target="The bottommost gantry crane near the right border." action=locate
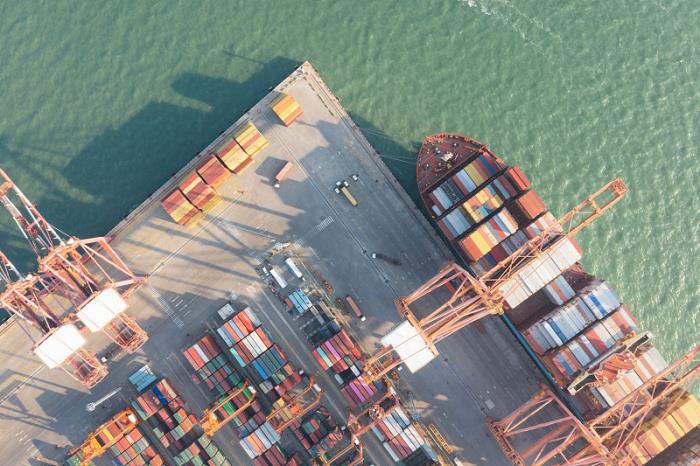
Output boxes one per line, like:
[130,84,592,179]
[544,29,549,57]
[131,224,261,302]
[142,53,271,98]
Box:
[486,339,700,466]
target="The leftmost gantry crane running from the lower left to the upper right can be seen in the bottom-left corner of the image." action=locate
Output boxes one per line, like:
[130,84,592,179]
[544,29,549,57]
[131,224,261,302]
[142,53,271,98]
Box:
[68,402,147,466]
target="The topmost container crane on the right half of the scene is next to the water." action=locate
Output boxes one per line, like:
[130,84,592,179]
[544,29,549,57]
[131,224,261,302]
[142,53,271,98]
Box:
[353,176,628,383]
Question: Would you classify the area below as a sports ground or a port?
port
